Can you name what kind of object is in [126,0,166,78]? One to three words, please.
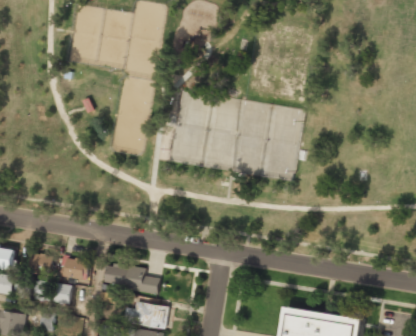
sports court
